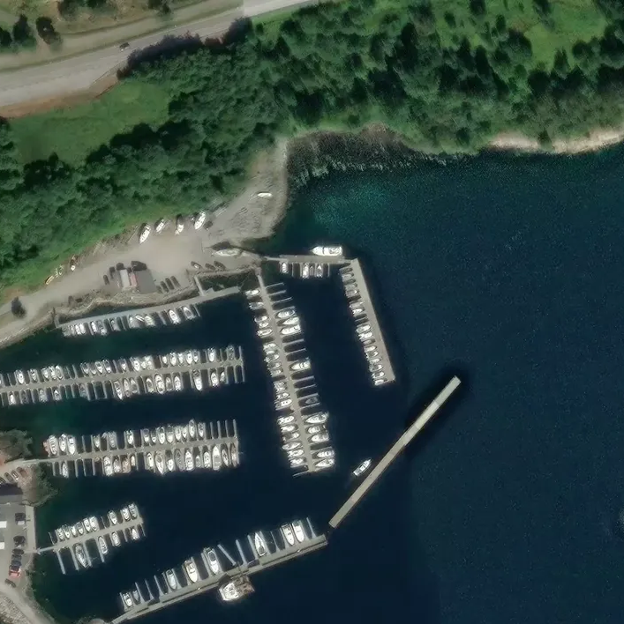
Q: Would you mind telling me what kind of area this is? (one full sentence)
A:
What you see here is a port.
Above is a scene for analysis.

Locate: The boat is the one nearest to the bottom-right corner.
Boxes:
[352,461,371,476]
